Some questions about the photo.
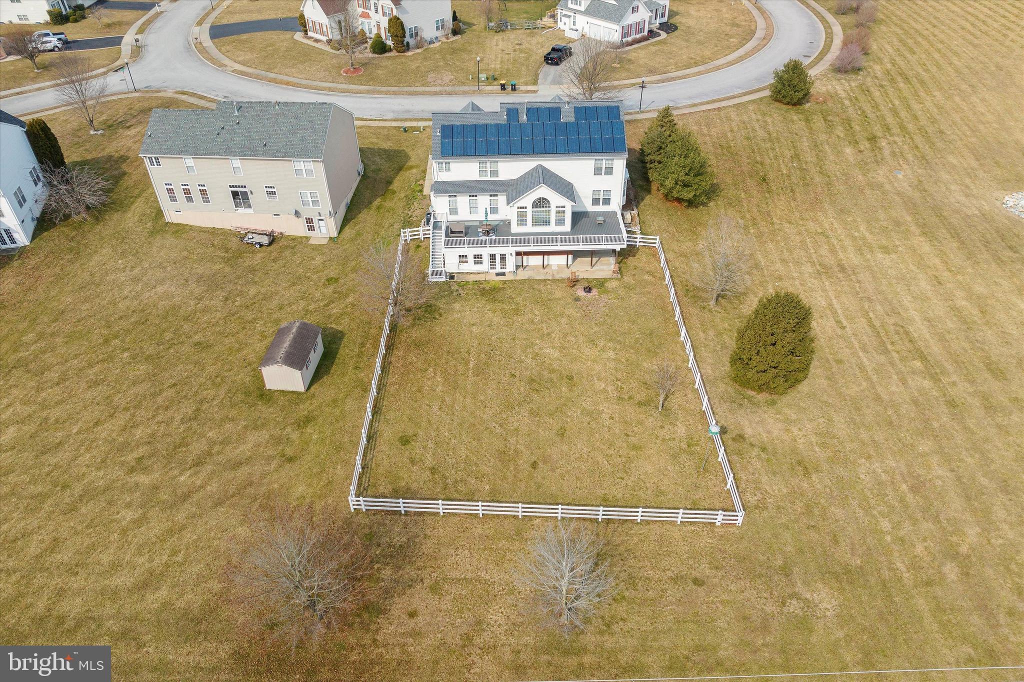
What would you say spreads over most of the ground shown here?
grass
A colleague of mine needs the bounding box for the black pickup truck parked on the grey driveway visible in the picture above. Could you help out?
[548,43,575,61]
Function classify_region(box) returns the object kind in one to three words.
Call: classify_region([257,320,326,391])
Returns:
building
